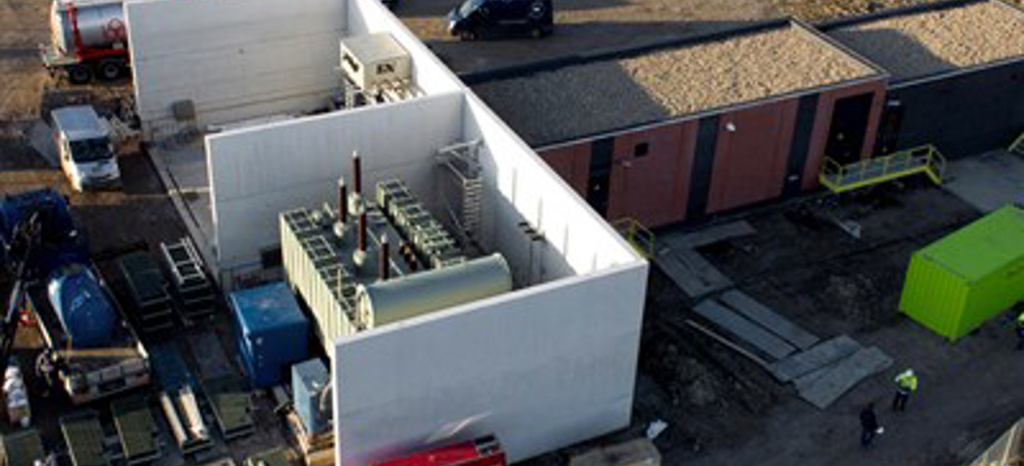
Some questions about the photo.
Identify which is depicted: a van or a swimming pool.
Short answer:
van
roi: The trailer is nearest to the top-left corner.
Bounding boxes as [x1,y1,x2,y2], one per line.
[35,0,132,79]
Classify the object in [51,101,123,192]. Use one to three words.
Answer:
van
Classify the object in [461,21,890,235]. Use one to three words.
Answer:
building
